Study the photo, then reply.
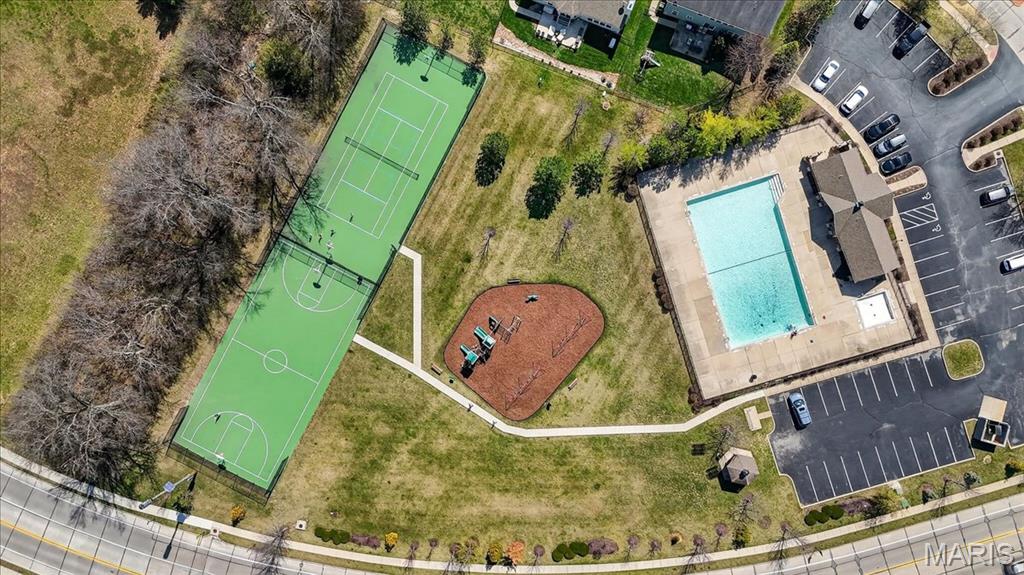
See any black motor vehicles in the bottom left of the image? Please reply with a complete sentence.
No, there is no black motor vehicle in the bottom left of the image.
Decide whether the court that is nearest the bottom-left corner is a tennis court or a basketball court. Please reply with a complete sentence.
The court that is nearest the bottom-left corner can be classified as a basketball court.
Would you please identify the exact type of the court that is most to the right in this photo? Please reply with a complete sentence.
I'd identify the court that is most to the right as a tennis court.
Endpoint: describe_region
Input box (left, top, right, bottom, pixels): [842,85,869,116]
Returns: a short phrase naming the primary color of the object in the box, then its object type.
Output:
white car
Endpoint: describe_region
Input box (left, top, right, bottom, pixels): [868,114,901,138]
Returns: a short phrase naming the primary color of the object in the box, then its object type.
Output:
black car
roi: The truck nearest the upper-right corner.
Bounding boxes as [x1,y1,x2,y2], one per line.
[897,21,932,56]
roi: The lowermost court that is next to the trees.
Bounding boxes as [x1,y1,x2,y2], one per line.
[173,235,376,489]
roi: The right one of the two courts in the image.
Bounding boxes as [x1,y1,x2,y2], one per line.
[279,23,483,284]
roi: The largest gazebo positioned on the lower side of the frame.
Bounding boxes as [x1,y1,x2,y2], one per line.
[718,447,758,487]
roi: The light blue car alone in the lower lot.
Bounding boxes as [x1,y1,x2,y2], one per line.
[791,396,812,428]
